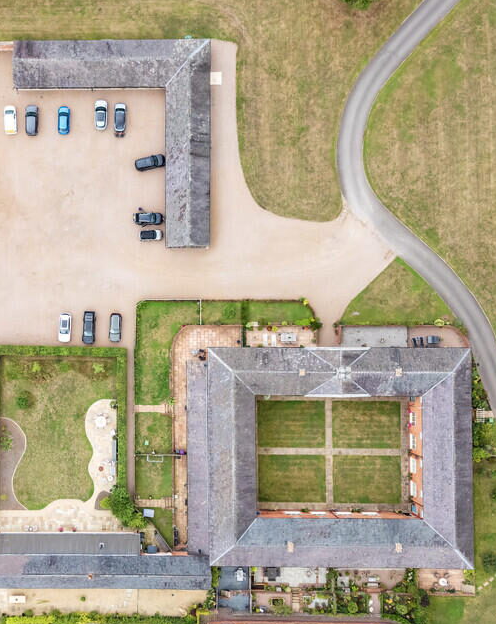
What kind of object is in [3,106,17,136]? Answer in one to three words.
car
